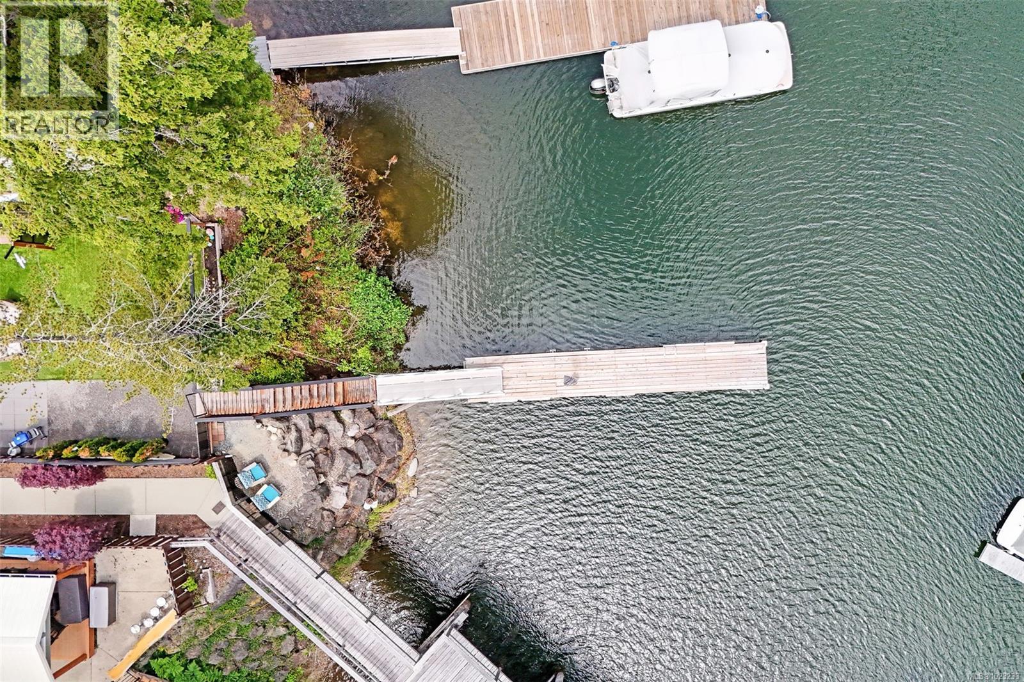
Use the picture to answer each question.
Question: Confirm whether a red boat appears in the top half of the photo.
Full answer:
No, no red boat can be made out in the top half of the photo.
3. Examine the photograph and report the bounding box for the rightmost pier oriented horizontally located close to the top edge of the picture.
[451,0,771,77]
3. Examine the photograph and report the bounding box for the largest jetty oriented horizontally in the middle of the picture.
[465,341,771,403]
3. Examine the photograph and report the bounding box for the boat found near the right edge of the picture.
[986,499,1024,563]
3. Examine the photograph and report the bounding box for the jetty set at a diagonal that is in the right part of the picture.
[973,541,1024,584]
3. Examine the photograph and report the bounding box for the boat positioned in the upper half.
[587,25,791,120]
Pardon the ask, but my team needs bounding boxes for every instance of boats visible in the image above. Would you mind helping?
[587,25,791,120]
[986,499,1024,563]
